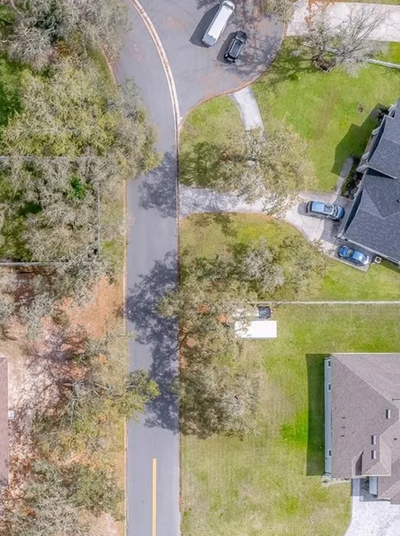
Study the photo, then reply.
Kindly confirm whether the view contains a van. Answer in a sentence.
Yes, this view includes a van.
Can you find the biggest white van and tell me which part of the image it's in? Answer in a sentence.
The biggest white van appears toward the top of the photo.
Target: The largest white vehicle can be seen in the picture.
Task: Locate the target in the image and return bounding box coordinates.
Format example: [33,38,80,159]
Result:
[199,5,231,52]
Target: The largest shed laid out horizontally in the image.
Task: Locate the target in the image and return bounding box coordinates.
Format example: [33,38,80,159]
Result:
[231,321,277,338]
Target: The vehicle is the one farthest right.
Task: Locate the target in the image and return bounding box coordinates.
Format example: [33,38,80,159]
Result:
[335,244,370,267]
